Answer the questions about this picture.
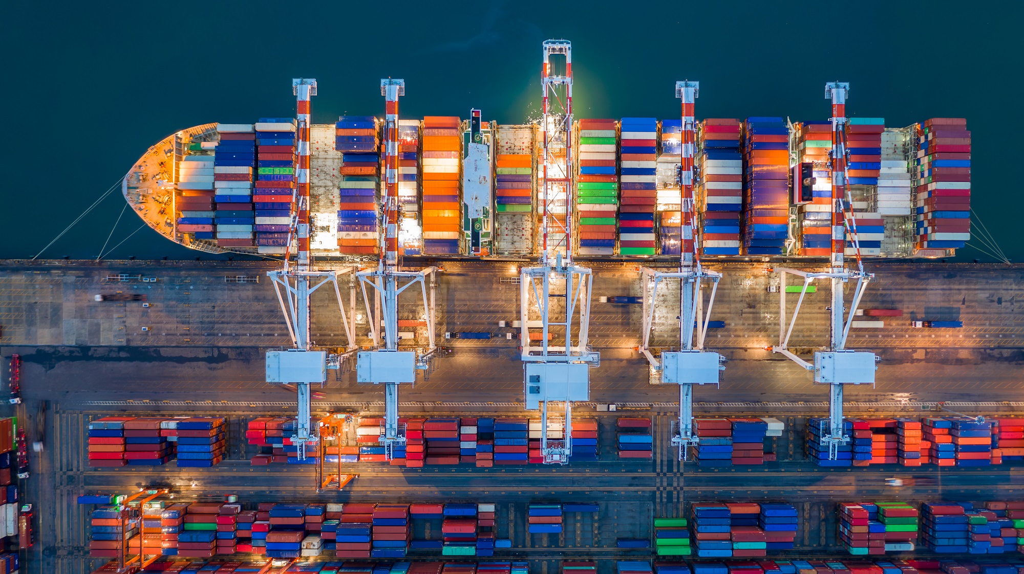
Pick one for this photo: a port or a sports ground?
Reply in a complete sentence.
The picture captures a port.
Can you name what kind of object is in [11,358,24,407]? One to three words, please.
vehicle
